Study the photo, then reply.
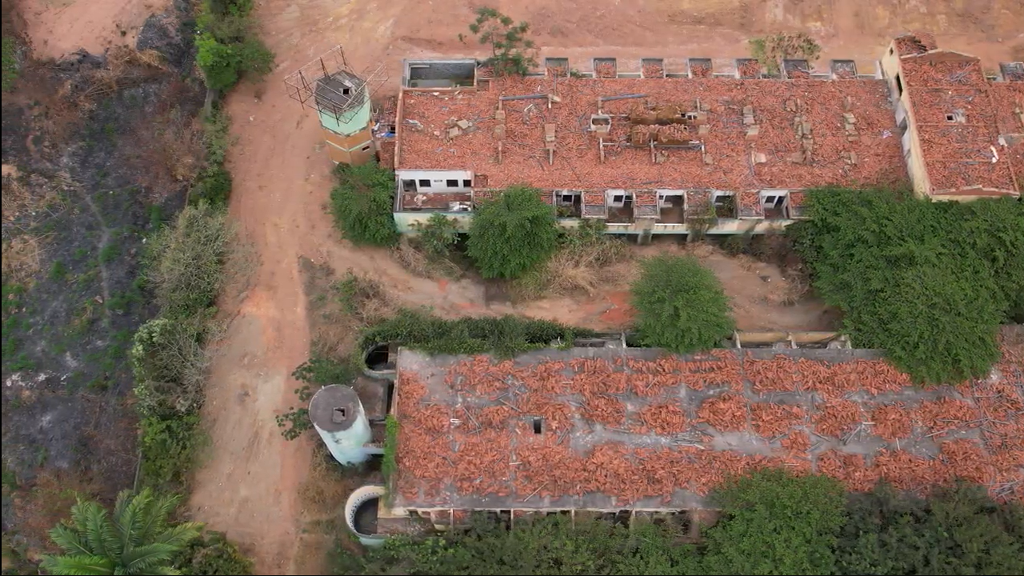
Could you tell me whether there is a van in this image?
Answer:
No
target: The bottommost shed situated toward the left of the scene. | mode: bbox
[359,378,391,431]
